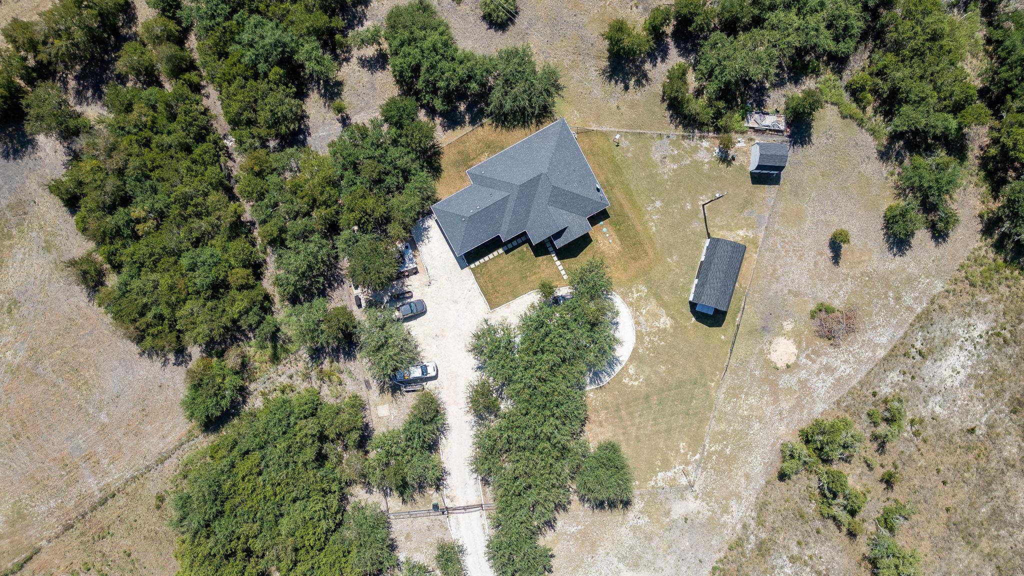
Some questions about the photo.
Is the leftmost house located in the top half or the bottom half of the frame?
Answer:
top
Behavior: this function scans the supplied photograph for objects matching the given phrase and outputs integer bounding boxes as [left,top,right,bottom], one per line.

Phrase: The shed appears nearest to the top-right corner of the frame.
[749,141,792,172]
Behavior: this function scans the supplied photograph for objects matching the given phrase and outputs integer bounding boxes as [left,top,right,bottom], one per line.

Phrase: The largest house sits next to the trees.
[430,117,611,257]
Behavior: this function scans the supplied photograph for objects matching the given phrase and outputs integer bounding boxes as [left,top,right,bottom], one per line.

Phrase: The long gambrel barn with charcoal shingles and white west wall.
[689,237,747,312]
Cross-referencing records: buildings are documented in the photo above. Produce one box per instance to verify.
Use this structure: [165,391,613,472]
[430,117,611,257]
[749,141,792,172]
[689,237,747,312]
